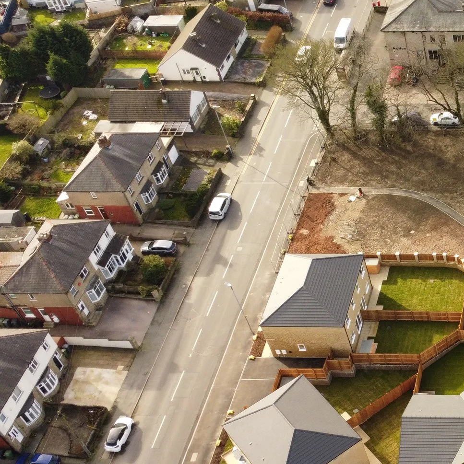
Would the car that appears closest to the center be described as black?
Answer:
No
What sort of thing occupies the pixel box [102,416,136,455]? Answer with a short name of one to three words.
car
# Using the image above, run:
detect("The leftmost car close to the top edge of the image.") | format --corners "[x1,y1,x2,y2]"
[260,1,289,16]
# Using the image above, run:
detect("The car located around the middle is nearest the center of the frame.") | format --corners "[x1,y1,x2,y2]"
[209,195,233,220]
